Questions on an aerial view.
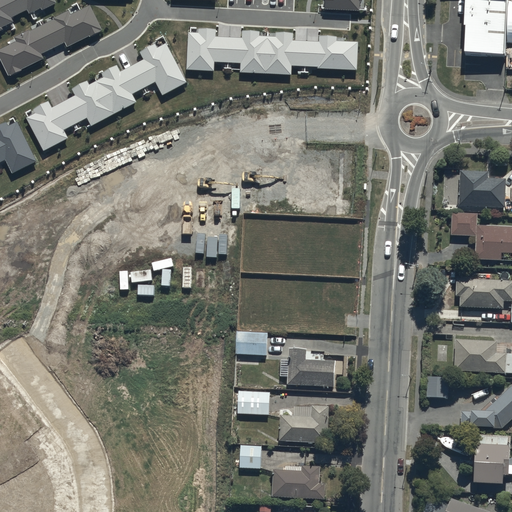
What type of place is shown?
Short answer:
residential area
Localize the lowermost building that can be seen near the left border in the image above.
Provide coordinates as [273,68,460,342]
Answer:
[0,120,34,174]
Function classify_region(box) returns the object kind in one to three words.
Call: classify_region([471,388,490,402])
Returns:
vehicle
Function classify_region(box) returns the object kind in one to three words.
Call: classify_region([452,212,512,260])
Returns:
house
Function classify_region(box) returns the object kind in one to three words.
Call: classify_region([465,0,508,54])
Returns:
building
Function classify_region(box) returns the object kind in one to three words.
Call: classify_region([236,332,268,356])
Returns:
shed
